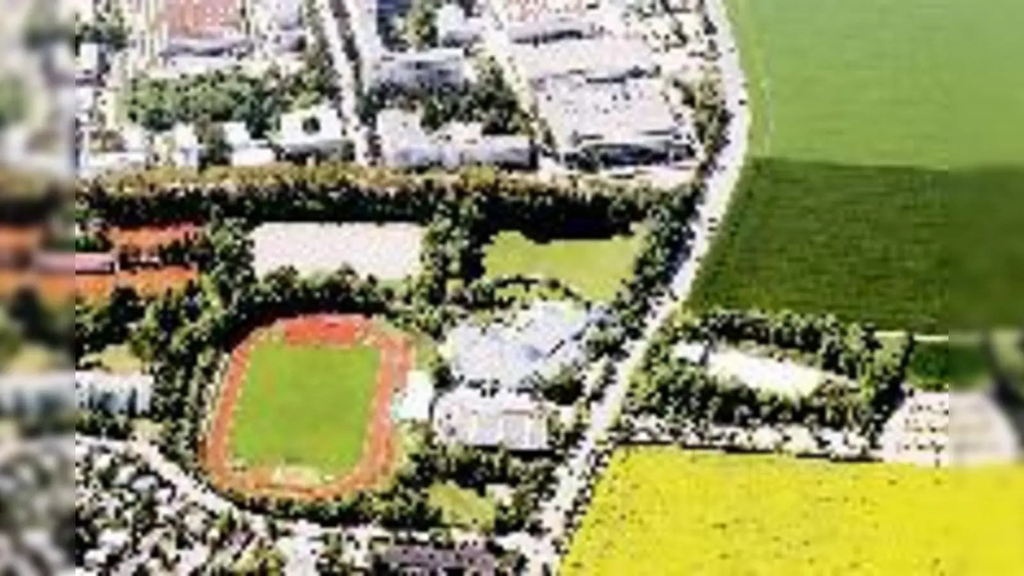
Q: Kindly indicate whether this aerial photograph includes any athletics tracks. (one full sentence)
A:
Yes, I can see an athletics track in this picture.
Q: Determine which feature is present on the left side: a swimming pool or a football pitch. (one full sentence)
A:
The one visible on the left side is a football pitch.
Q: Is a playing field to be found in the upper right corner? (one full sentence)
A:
No, no playing field appears in the upper right corner.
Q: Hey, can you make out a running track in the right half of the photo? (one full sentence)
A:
No, the scene shows no running track in the right half of the photo.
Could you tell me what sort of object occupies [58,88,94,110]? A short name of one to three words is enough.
shed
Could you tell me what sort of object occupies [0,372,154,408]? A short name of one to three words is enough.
building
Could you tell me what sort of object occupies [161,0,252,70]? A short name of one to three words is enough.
building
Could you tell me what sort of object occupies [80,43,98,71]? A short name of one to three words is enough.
house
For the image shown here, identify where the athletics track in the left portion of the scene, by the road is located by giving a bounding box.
[200,319,412,508]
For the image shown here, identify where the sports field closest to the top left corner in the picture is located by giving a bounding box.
[252,222,428,281]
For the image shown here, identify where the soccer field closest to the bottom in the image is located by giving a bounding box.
[226,346,389,472]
